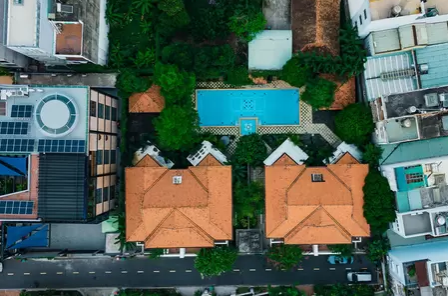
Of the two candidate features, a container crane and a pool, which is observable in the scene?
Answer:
pool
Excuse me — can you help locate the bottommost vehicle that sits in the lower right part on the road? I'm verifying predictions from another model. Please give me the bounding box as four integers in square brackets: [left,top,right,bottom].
[347,269,374,283]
